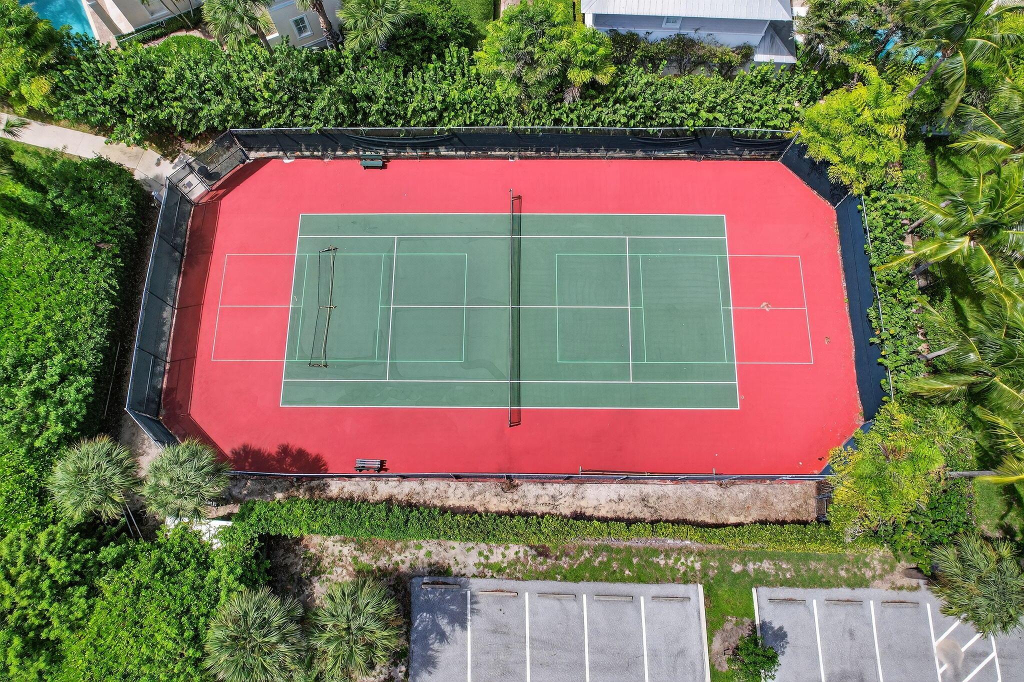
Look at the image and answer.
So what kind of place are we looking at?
sports ground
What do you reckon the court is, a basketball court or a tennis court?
tennis court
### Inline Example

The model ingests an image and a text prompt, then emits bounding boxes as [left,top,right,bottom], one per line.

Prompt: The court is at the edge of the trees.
[162,157,862,487]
